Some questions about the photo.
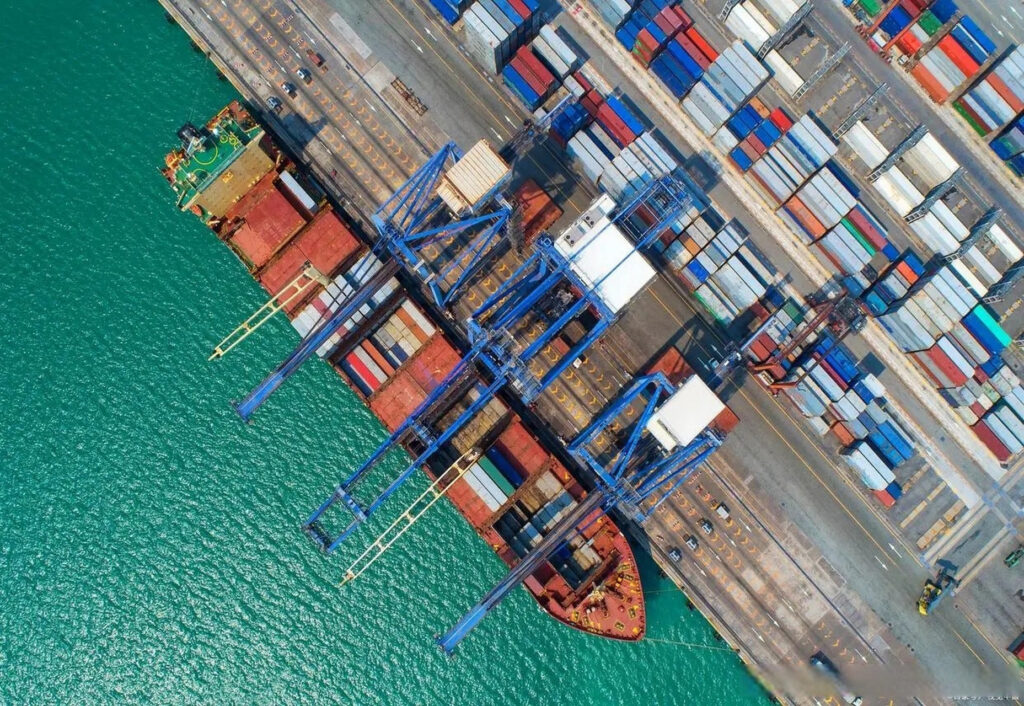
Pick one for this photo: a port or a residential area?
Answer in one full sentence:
It's a port.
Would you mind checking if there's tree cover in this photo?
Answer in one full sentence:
No, tree cover can't be seen anywhere here.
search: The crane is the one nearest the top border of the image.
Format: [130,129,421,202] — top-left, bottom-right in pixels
[860,0,951,57]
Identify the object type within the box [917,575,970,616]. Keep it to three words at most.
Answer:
work vehicle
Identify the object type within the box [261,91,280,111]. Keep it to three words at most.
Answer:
vehicle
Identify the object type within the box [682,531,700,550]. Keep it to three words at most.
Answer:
vehicle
